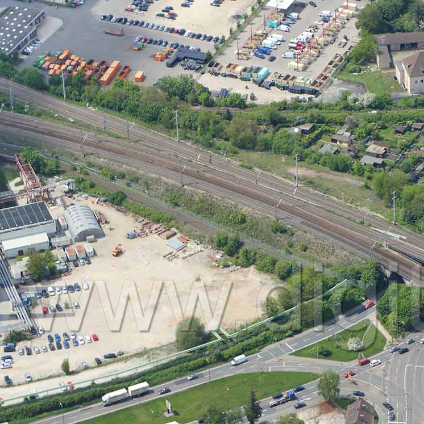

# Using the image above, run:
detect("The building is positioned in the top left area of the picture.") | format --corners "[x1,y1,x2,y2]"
[0,5,47,54]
